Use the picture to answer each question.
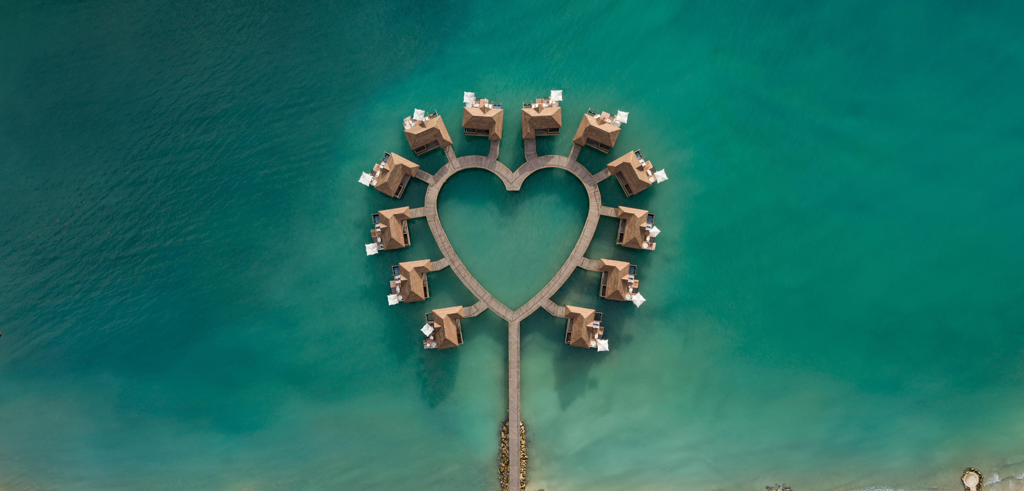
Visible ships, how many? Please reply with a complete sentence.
The photo contains no ships.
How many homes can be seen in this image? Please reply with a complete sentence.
The photo contains 12 homes.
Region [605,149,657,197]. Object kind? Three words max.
house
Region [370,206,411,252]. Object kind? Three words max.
house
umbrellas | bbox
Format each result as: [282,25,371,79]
[616,110,628,123]
[413,109,425,121]
[359,172,373,186]
[463,92,474,103]
[597,340,609,352]
[551,90,562,101]
[421,324,433,337]
[366,243,378,256]
[387,295,398,306]
[654,169,668,183]
[631,293,646,308]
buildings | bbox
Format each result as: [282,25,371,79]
[521,96,562,140]
[390,259,432,303]
[598,258,639,302]
[369,151,420,199]
[563,304,604,349]
[605,149,657,197]
[462,97,503,141]
[401,109,453,156]
[616,205,656,252]
[572,107,623,154]
[370,206,411,252]
[424,305,465,350]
